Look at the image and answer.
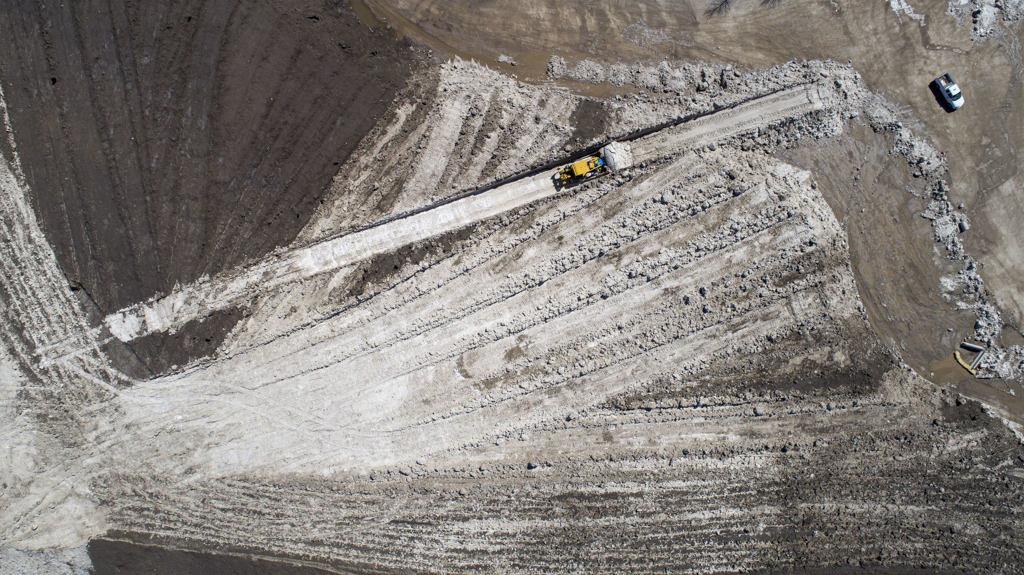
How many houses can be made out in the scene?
zero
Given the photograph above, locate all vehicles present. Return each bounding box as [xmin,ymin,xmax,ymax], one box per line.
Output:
[933,74,963,112]
[556,148,611,185]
